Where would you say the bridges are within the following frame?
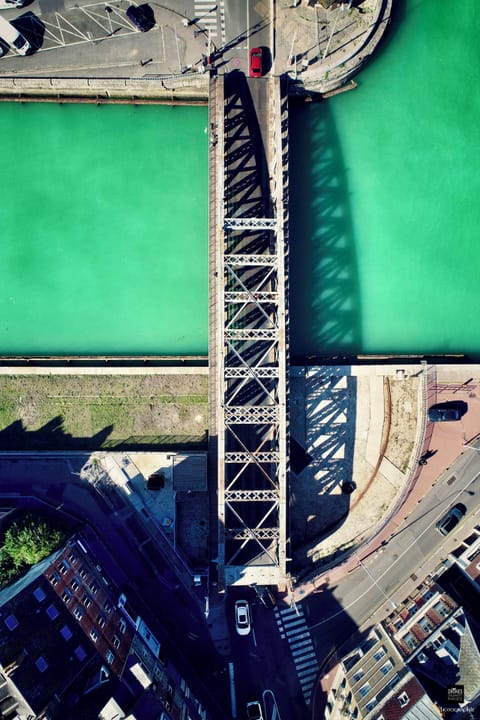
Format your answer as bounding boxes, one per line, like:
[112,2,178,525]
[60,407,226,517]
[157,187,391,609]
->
[208,72,294,606]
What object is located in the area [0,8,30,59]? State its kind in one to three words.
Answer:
van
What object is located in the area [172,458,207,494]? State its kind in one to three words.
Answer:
shed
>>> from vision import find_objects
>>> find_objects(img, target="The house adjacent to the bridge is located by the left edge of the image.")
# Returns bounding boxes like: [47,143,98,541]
[0,539,136,720]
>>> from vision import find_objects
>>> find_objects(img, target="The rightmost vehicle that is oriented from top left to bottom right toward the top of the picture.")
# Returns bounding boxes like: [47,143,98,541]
[124,0,151,35]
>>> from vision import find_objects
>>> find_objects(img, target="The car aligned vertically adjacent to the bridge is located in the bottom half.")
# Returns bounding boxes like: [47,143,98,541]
[234,601,251,638]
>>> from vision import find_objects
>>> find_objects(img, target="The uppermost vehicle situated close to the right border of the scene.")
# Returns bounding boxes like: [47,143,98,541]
[429,406,464,423]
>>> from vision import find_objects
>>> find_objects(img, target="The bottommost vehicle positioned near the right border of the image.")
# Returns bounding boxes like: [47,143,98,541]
[435,502,467,536]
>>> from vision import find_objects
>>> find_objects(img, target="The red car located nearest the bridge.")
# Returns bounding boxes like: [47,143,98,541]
[249,44,266,77]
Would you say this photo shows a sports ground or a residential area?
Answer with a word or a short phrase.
residential area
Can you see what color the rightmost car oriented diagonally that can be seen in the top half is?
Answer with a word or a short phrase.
black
